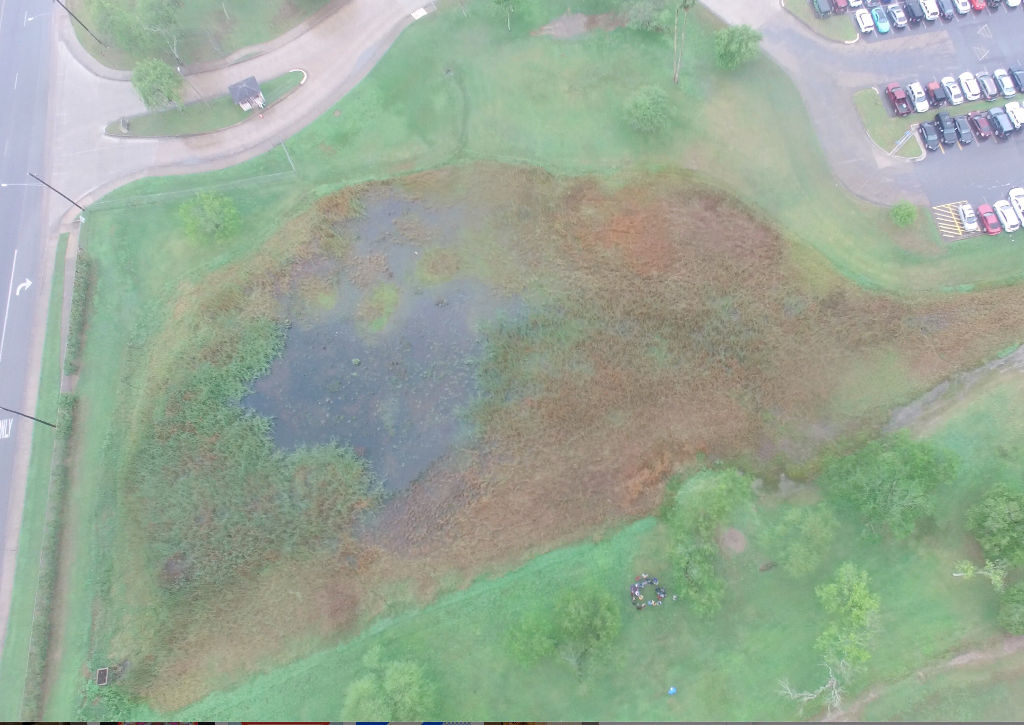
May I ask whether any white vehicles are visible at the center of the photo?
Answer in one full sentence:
No, there's no white vehicle to be seen at the center of the photo.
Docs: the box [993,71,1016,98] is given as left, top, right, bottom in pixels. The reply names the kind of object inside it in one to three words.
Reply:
car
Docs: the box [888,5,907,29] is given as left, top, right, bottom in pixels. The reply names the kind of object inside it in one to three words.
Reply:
car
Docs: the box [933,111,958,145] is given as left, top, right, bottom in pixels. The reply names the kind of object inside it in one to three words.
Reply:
truck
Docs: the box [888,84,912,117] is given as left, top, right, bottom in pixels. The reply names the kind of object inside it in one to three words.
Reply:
truck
